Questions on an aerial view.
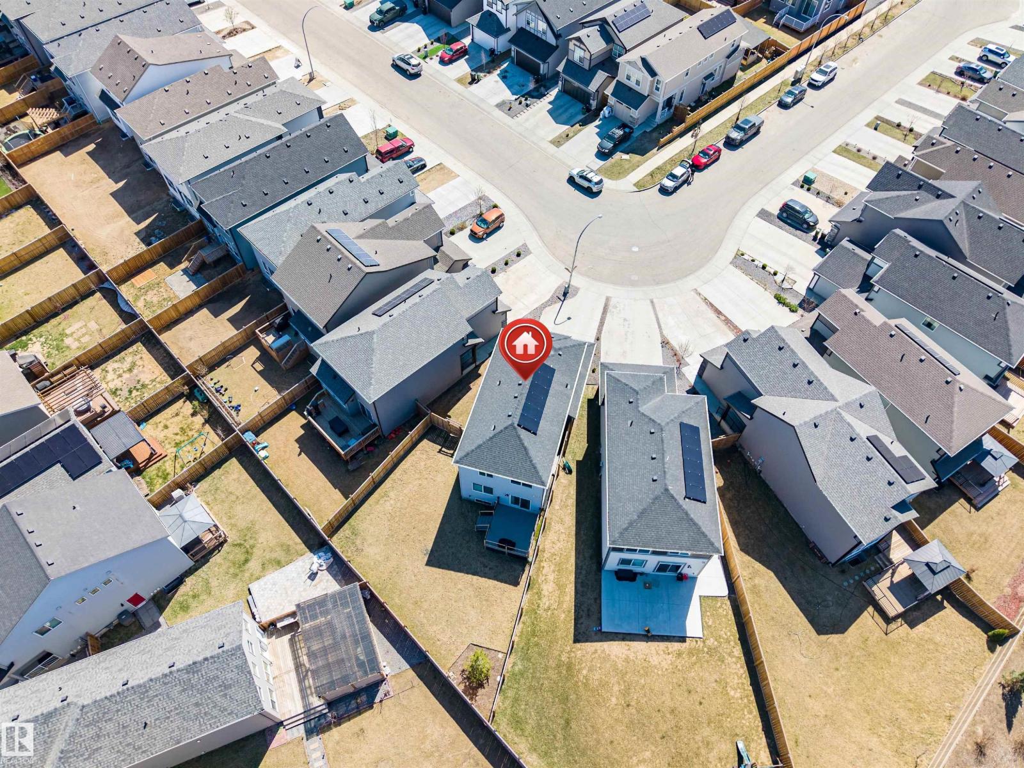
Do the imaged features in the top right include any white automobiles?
Yes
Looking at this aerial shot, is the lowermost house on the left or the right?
left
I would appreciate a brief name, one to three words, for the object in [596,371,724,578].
house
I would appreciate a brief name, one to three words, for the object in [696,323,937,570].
house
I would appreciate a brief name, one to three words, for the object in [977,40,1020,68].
car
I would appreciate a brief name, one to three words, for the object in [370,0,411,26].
truck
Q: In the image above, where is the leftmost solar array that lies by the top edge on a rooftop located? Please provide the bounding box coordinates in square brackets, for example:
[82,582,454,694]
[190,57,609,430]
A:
[612,3,651,32]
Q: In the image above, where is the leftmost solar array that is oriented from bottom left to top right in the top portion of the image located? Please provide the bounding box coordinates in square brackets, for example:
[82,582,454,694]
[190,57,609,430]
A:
[373,278,433,317]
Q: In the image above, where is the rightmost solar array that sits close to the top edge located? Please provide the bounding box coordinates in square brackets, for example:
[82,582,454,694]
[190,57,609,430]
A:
[698,9,735,38]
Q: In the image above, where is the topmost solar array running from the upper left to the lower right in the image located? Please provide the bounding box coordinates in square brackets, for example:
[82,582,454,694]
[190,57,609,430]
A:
[326,229,379,266]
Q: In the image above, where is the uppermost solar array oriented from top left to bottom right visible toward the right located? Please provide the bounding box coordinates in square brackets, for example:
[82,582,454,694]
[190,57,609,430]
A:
[895,324,960,375]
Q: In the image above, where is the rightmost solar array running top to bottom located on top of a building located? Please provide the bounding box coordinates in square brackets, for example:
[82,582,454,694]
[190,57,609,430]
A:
[679,423,706,503]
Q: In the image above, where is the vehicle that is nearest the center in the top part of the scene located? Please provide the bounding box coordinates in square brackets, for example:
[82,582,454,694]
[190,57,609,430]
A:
[467,207,510,240]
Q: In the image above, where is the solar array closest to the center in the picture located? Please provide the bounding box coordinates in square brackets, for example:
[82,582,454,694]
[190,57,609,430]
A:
[517,363,556,435]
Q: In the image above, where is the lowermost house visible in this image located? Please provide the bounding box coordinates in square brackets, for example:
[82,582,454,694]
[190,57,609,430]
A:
[0,601,276,768]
